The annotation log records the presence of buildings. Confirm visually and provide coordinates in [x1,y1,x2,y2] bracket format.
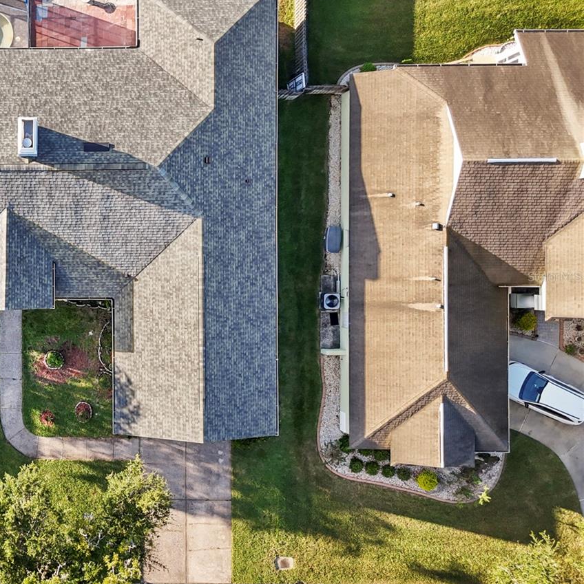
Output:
[0,0,281,445]
[329,27,584,467]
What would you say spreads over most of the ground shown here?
buildings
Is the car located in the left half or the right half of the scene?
right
